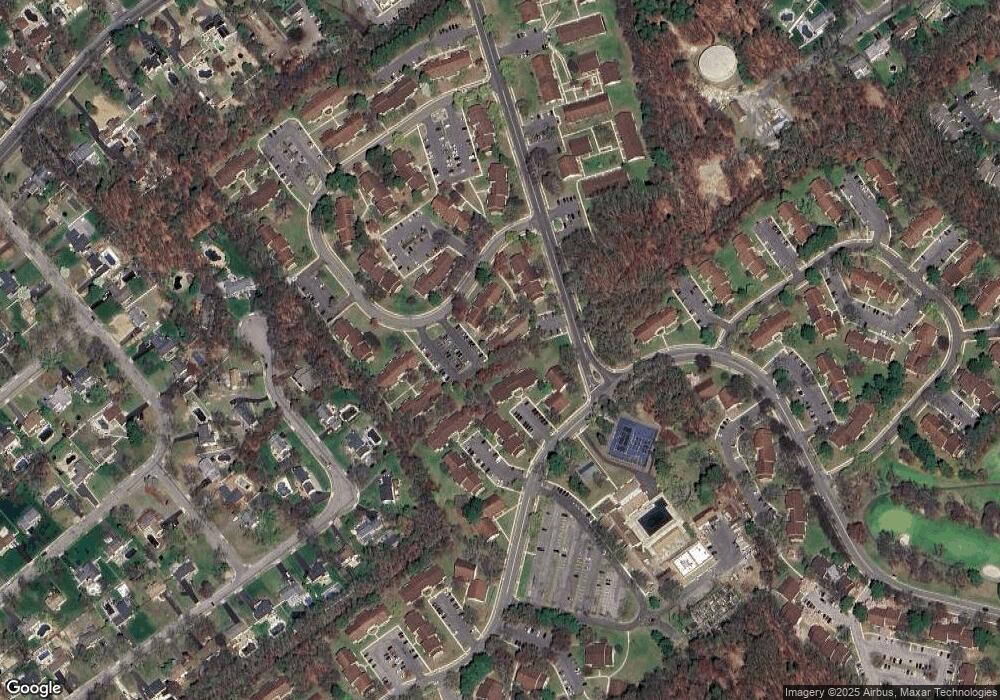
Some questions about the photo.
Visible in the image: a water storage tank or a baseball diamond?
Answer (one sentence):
Of the two, only a water storage tank appears.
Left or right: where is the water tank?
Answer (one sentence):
The water tank sits on the right side.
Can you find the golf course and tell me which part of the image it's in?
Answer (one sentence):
The golf course is located in the bottom right region of the scene.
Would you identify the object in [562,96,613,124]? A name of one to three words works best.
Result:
building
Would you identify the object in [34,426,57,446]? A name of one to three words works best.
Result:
swimming pool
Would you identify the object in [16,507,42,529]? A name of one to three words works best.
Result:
house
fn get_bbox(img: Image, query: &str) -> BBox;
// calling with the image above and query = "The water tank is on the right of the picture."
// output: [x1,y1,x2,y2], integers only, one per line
[698,47,735,84]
